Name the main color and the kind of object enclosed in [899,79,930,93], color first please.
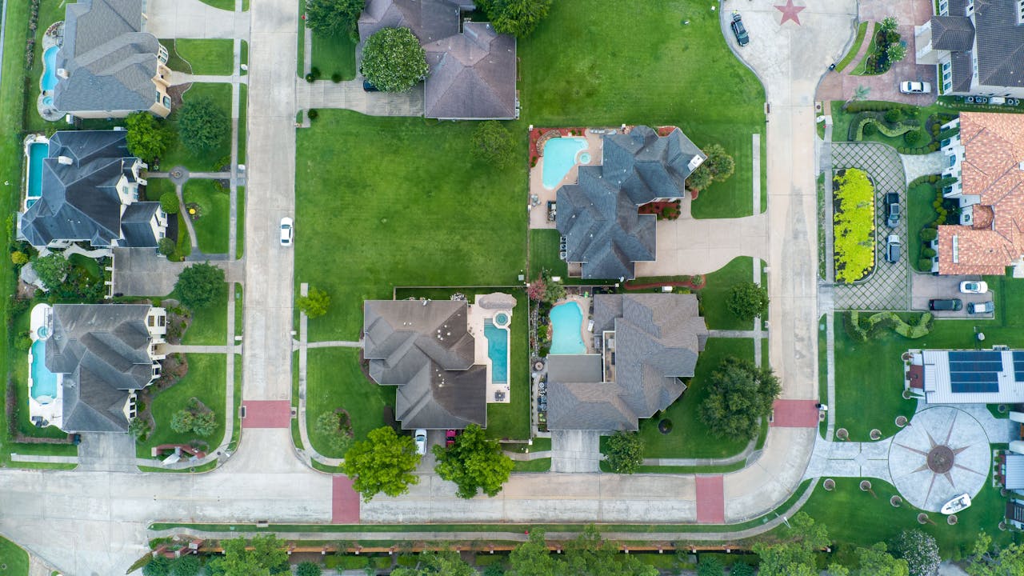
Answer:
white car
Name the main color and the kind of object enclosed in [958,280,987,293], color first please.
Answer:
white vehicle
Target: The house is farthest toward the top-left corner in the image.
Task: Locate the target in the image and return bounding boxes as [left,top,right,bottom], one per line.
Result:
[54,0,178,117]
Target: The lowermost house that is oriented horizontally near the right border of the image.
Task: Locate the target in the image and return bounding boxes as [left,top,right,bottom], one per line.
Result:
[905,348,1024,405]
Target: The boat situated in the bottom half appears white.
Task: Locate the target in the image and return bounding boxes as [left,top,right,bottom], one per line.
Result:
[936,491,974,515]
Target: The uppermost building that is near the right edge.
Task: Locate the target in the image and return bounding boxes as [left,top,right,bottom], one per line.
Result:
[906,0,1024,97]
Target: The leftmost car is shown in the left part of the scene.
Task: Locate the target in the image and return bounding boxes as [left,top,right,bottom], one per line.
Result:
[279,218,293,246]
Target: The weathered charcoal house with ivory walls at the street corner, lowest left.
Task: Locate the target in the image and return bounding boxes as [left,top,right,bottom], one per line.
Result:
[45,304,173,433]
